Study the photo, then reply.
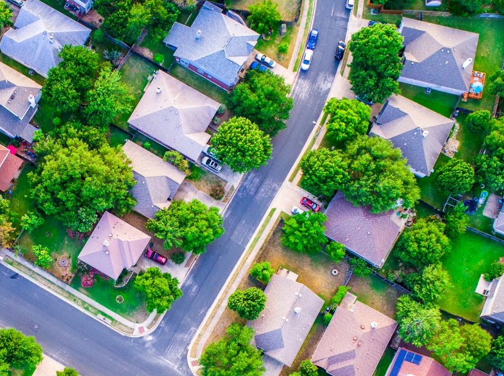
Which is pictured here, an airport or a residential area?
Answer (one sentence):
This image shows a residential area.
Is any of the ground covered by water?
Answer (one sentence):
No, there's no water in this view.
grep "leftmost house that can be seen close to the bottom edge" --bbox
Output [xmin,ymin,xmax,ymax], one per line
[248,275,325,368]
